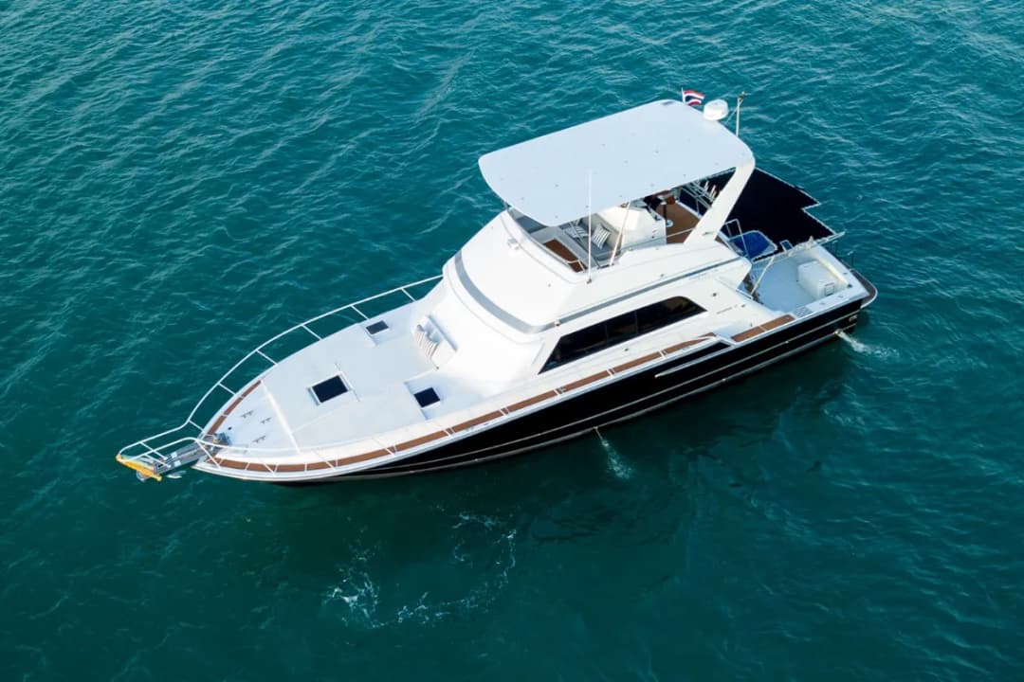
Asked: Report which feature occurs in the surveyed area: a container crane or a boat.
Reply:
boat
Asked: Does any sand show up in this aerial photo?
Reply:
No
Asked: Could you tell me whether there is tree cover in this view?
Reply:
No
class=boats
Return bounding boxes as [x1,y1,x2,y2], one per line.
[114,89,872,486]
